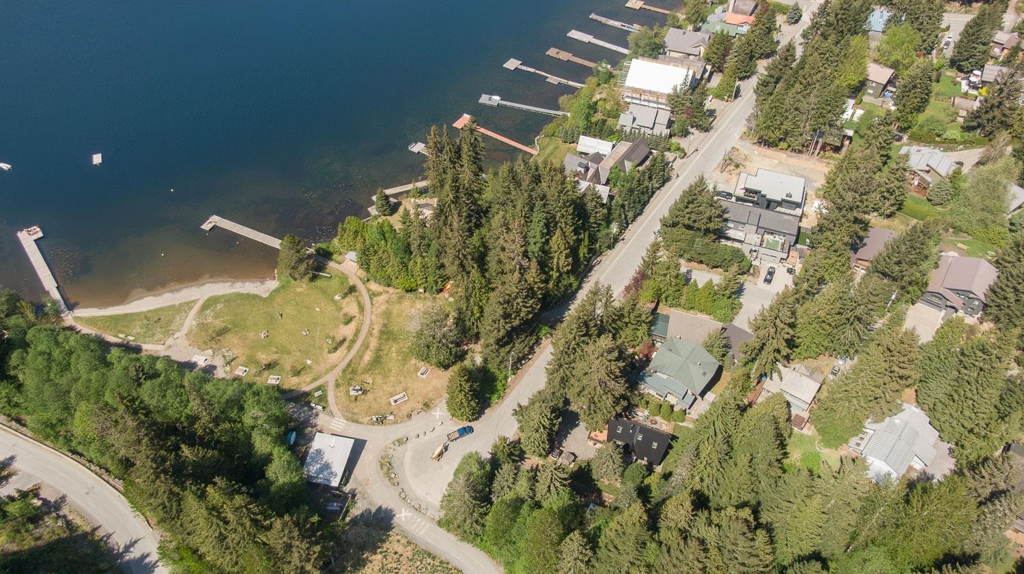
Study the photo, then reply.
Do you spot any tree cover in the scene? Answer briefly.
Yes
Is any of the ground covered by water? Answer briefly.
Yes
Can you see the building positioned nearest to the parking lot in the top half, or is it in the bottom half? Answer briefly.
bottom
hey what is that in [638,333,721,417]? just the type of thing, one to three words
house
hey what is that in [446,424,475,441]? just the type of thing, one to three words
vehicle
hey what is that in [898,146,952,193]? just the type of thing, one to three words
house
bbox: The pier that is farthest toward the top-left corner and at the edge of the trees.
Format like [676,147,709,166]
[18,226,72,311]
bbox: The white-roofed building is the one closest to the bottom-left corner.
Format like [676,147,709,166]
[305,433,355,490]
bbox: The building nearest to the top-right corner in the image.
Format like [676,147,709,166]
[986,31,1019,64]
